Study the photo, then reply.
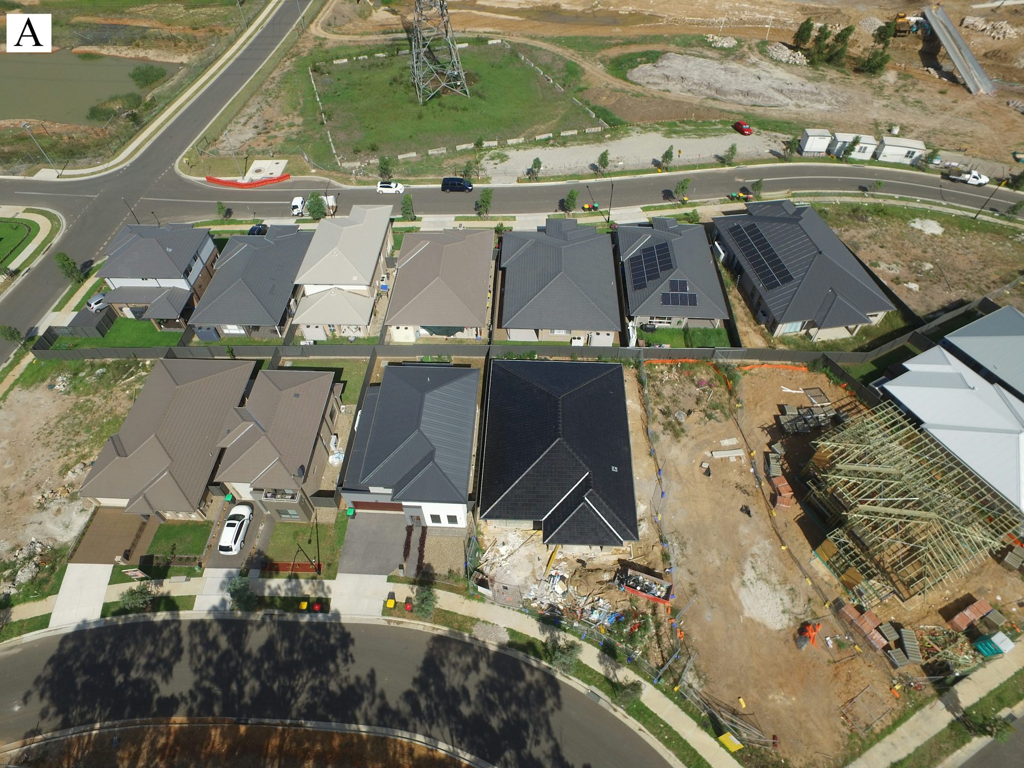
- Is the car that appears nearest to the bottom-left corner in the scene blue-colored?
No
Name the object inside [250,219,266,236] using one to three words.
car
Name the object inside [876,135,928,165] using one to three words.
building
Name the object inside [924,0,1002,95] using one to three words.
bridge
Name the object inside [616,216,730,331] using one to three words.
house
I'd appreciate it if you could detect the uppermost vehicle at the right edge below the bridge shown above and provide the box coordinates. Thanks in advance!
[954,171,991,189]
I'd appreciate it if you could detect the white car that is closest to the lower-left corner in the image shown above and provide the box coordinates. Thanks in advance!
[214,513,250,559]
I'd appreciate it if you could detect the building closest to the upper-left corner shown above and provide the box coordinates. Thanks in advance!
[94,223,219,320]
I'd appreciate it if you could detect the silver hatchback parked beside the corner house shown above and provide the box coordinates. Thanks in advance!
[79,293,111,314]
